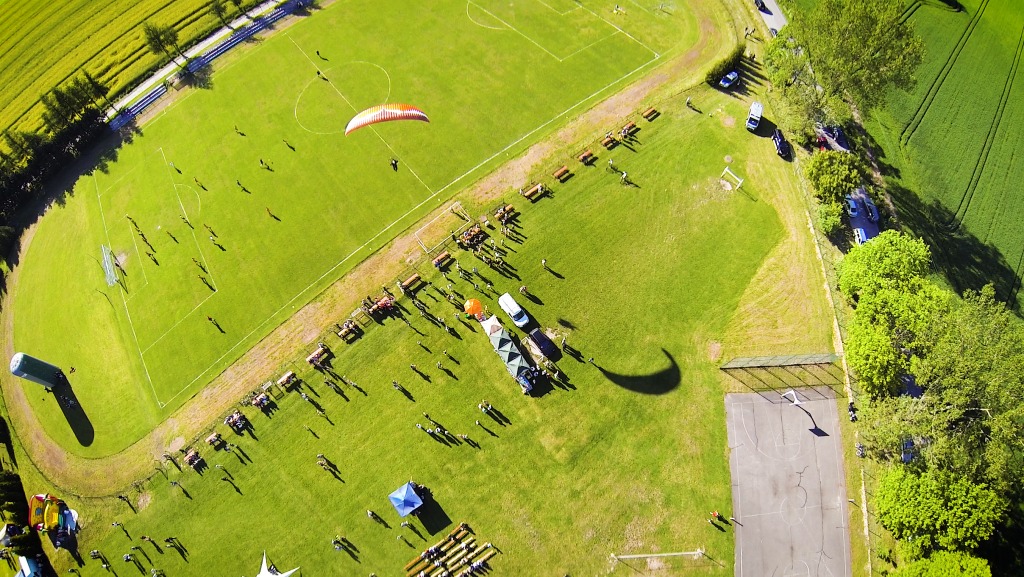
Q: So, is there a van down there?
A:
Yes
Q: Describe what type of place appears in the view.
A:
sports ground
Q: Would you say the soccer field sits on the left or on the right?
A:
left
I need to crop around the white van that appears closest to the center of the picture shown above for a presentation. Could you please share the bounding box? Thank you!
[498,290,531,329]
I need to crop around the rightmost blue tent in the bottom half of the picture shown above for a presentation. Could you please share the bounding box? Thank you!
[388,482,425,515]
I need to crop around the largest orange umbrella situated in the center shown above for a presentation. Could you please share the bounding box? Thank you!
[465,300,481,315]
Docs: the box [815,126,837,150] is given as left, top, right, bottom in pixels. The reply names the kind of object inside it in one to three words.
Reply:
car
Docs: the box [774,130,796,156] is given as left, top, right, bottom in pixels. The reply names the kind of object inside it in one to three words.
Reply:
car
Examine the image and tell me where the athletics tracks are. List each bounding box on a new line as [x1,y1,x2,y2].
[0,0,736,496]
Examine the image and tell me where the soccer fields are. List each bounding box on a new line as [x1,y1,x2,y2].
[14,0,696,458]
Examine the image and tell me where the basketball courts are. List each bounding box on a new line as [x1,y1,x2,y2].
[725,387,852,577]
